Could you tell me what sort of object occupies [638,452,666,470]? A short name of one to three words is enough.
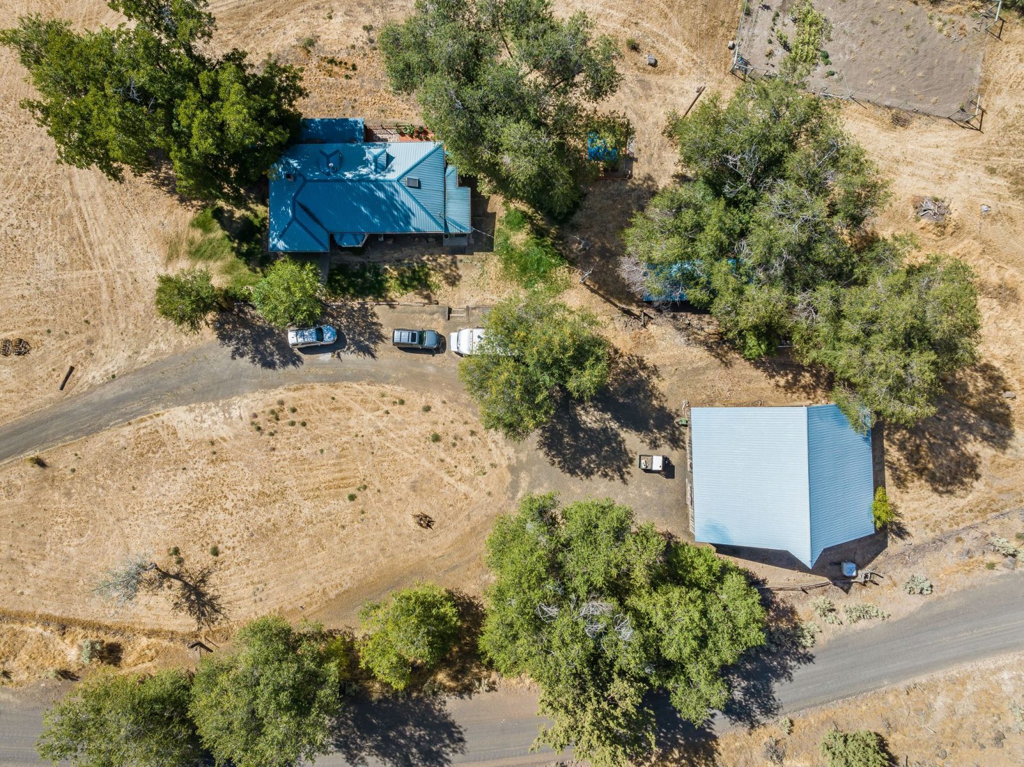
vehicle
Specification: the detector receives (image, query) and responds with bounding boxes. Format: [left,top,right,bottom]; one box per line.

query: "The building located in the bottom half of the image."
[685,403,876,566]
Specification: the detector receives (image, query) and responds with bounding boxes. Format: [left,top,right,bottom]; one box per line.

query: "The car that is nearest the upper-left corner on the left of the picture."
[287,325,339,349]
